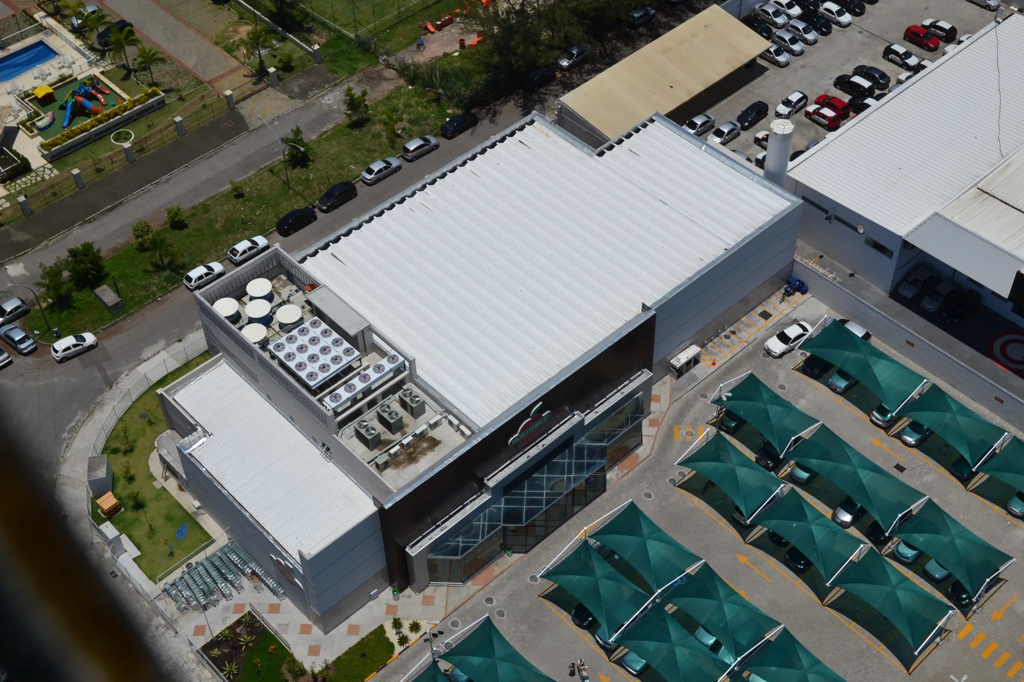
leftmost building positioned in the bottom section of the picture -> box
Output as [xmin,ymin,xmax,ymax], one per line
[86,454,112,496]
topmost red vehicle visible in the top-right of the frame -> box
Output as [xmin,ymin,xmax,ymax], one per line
[902,25,942,52]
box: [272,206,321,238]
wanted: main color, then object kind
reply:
black car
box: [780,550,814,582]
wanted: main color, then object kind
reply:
black car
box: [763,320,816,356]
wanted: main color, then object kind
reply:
white car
